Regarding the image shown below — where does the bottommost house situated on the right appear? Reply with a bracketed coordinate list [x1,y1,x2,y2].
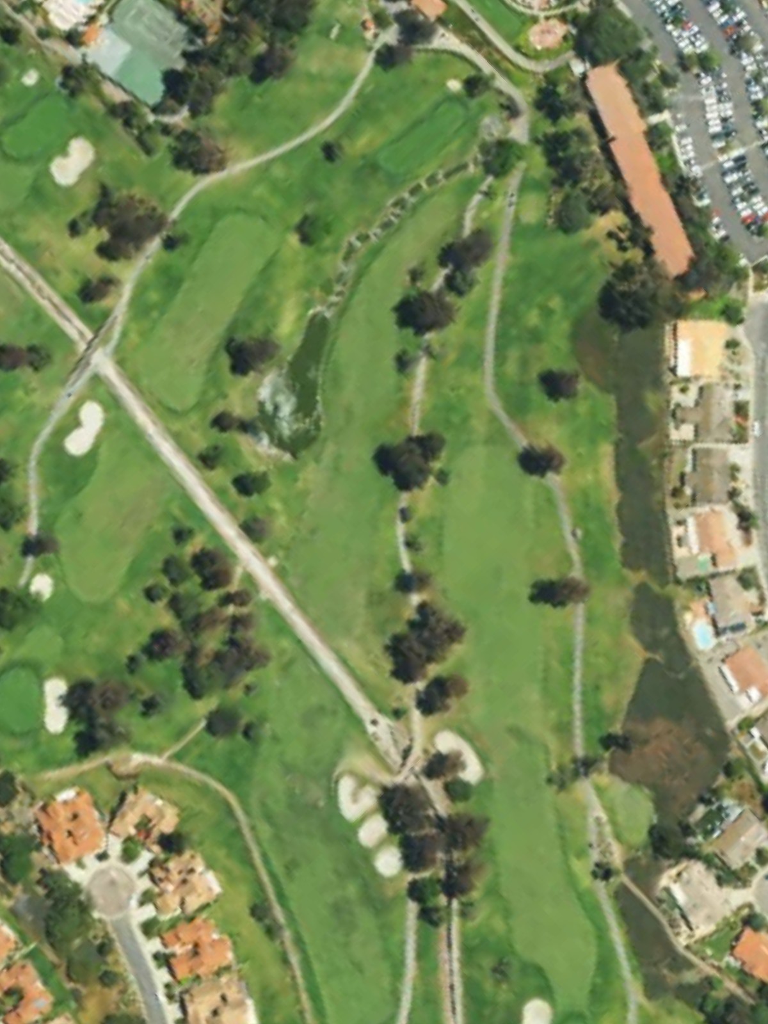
[727,926,768,988]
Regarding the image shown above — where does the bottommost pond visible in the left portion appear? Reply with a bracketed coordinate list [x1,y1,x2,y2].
[256,313,333,459]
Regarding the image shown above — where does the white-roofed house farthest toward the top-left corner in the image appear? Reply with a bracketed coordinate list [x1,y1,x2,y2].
[45,0,99,32]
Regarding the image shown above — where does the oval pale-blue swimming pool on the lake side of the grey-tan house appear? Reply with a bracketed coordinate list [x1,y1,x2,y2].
[690,617,715,648]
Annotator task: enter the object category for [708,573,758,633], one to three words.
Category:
house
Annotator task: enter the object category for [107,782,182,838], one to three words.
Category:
house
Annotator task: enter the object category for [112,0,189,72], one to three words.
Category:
tennis court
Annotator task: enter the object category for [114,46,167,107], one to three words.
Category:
tennis court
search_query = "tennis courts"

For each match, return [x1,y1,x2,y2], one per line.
[114,46,167,107]
[112,0,189,72]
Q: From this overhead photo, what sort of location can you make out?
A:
golf course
